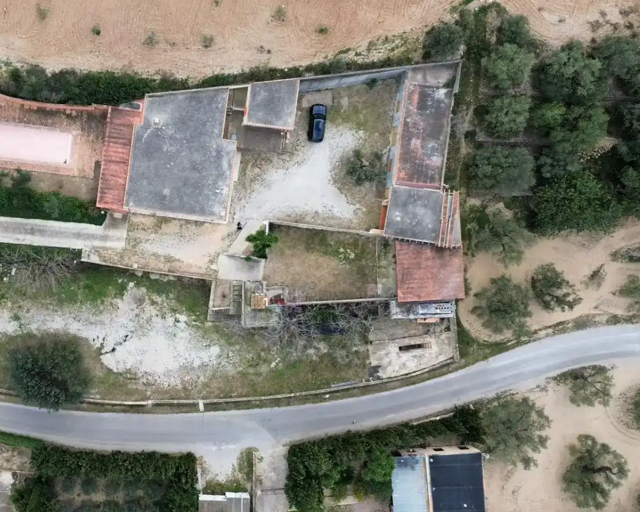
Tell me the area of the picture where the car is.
top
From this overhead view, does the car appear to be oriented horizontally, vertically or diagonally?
vertically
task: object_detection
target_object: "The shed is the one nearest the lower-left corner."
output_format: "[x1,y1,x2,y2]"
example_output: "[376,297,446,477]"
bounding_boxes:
[200,492,228,512]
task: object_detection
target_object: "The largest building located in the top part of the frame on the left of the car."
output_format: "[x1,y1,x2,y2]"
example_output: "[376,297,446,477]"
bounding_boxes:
[124,88,240,225]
